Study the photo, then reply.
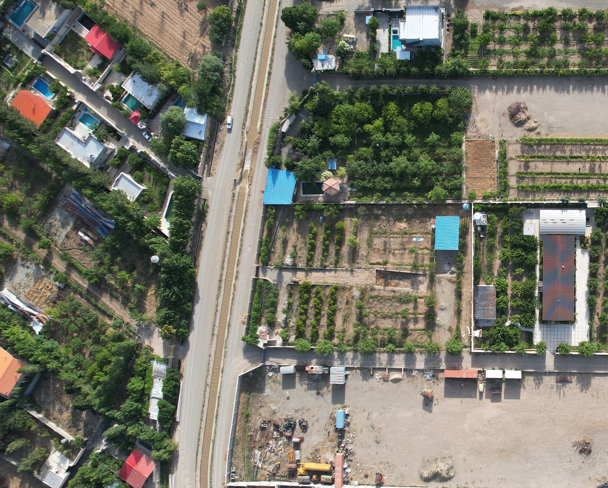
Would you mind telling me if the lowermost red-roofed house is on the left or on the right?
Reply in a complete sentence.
The lowermost red-roofed house sits on the left side.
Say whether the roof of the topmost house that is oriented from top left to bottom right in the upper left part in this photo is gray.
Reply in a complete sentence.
No, from above the roof of the topmost house that is oriented from top left to bottom right in the upper left part looks red.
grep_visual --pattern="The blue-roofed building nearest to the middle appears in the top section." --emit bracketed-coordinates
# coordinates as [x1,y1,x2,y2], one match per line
[262,168,299,204]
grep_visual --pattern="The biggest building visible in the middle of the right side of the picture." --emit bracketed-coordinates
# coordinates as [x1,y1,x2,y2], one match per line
[543,236,574,320]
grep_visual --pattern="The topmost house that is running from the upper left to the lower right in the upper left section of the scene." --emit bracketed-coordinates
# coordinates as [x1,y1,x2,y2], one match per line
[85,25,121,61]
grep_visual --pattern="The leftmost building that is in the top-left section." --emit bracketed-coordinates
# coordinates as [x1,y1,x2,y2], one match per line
[12,90,58,124]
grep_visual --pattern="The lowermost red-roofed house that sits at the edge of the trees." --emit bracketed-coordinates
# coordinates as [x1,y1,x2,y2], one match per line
[118,447,161,488]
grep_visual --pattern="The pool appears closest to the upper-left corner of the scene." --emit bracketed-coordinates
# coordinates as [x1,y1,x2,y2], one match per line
[6,0,36,28]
